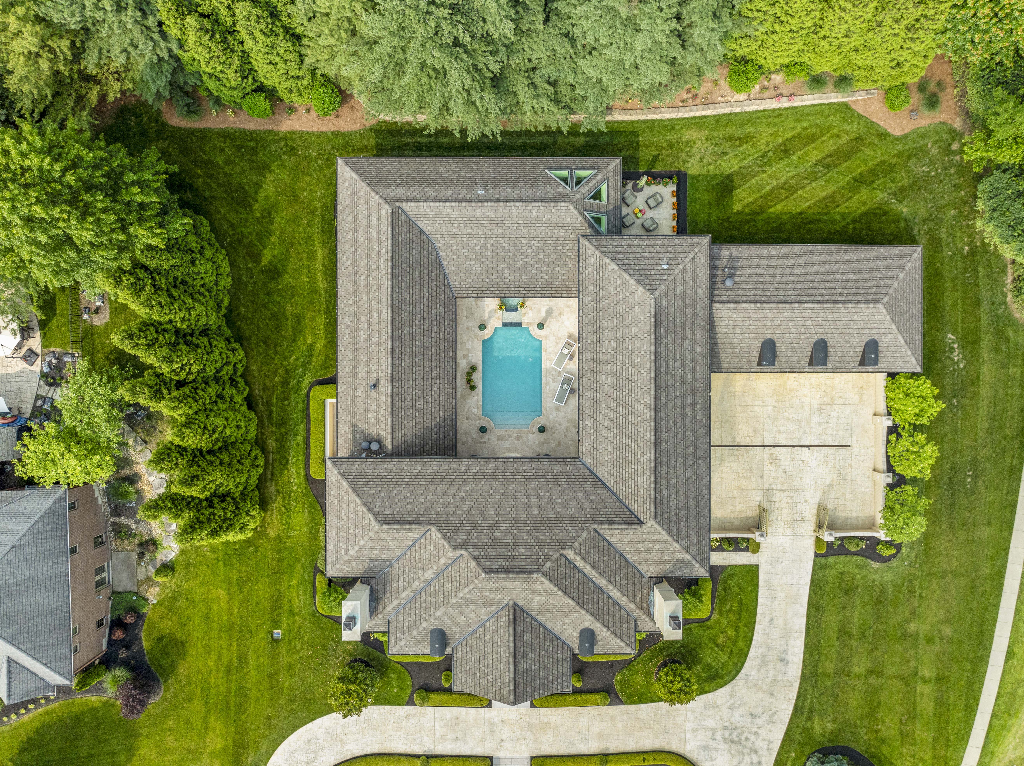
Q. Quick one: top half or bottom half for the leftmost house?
bottom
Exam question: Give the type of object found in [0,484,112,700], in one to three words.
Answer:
house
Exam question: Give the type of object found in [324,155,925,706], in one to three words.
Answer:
house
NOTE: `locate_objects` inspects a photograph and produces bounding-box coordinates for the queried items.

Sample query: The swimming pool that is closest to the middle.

[477,322,547,434]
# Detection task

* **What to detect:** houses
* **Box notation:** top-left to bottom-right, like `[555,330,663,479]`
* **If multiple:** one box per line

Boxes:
[0,484,112,700]
[324,155,925,706]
